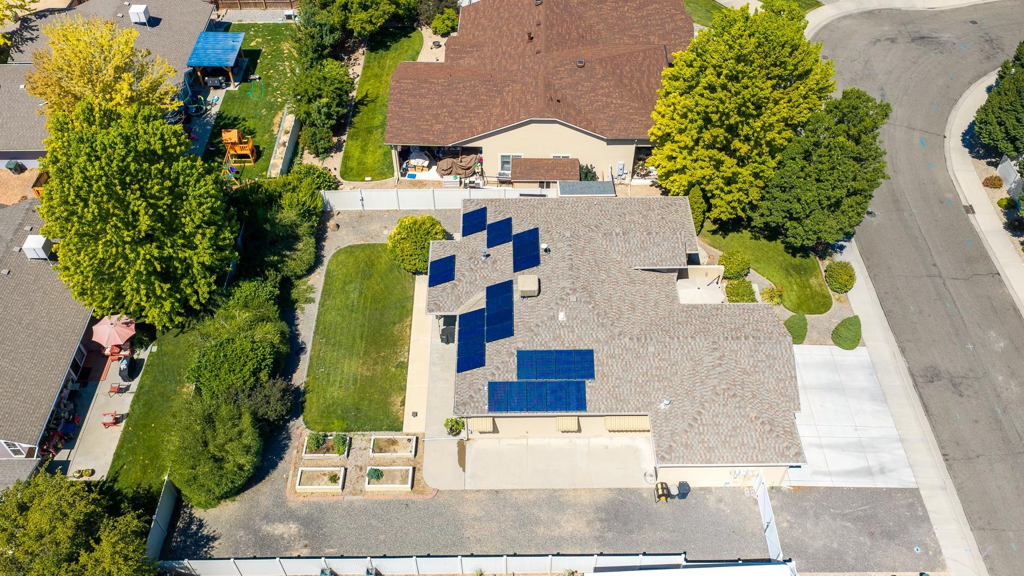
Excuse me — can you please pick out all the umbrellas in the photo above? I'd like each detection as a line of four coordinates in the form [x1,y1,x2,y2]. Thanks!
[90,309,142,346]
[678,271,728,303]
